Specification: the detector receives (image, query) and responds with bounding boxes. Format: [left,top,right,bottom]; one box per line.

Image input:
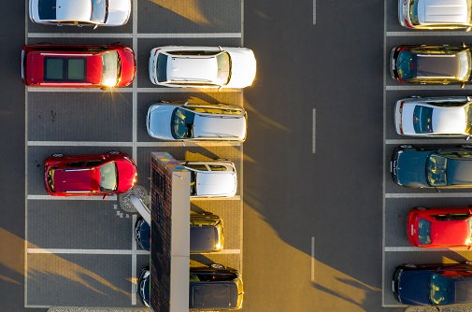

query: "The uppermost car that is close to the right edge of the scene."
[396,0,472,34]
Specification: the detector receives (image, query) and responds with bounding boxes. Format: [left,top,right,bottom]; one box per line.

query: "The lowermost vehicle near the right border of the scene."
[390,259,472,312]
